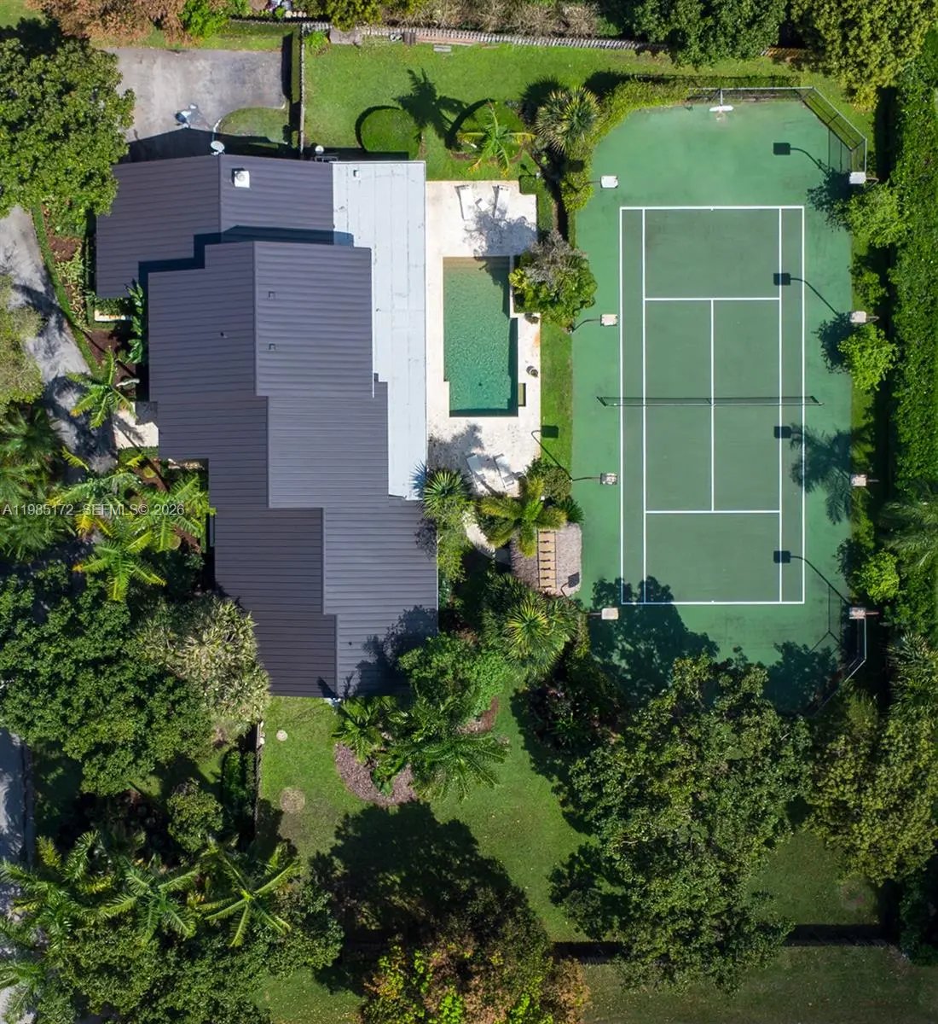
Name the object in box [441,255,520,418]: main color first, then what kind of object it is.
green swimming pool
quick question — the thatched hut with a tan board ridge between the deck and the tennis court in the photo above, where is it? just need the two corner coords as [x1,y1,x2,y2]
[507,521,588,601]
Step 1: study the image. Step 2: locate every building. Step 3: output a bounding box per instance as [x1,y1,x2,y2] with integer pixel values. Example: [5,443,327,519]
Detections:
[507,521,588,601]
[96,156,439,698]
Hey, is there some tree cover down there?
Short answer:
Yes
